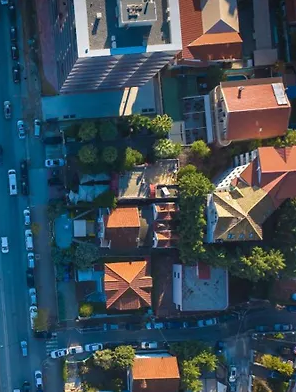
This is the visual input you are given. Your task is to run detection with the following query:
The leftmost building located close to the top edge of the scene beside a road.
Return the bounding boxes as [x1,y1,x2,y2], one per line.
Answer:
[38,0,182,124]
